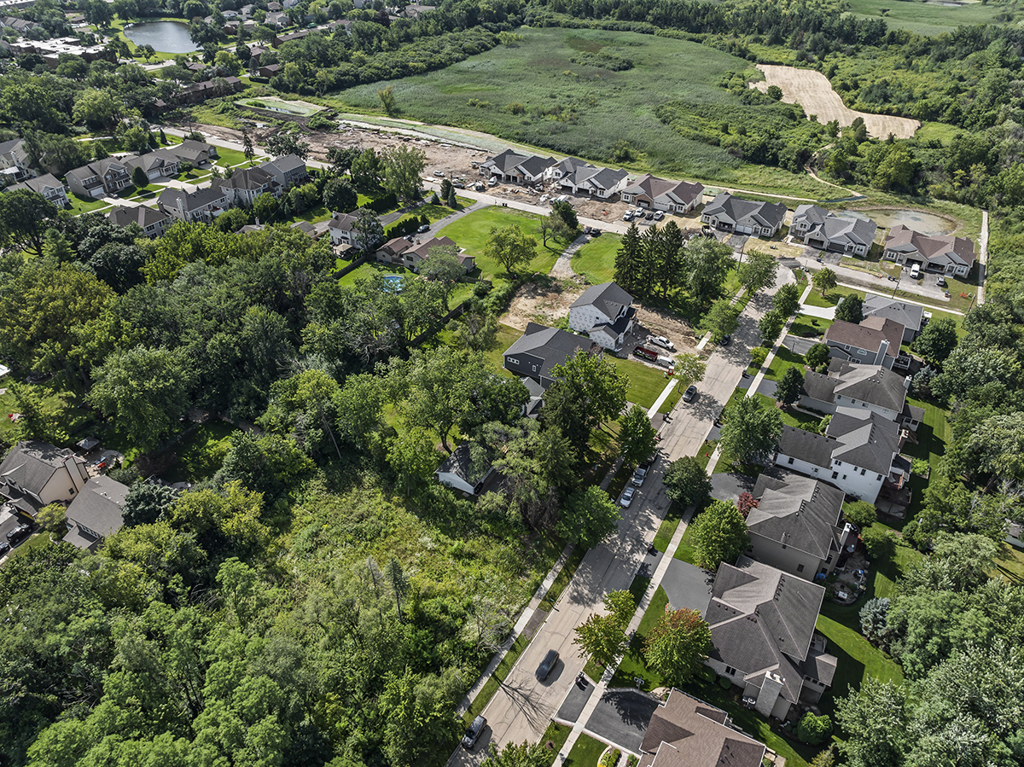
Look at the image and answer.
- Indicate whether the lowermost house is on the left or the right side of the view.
right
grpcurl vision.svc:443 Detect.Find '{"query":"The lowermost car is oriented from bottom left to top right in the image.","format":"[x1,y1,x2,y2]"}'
[462,713,487,746]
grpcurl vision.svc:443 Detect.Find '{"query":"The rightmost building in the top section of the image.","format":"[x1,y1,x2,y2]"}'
[884,219,977,278]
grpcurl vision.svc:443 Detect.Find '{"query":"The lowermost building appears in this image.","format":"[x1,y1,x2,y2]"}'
[639,684,767,767]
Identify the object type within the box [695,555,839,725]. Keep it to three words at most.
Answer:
house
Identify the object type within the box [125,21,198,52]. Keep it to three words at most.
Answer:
pond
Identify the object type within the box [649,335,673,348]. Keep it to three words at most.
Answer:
vehicle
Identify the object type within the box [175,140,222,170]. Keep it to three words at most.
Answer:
house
